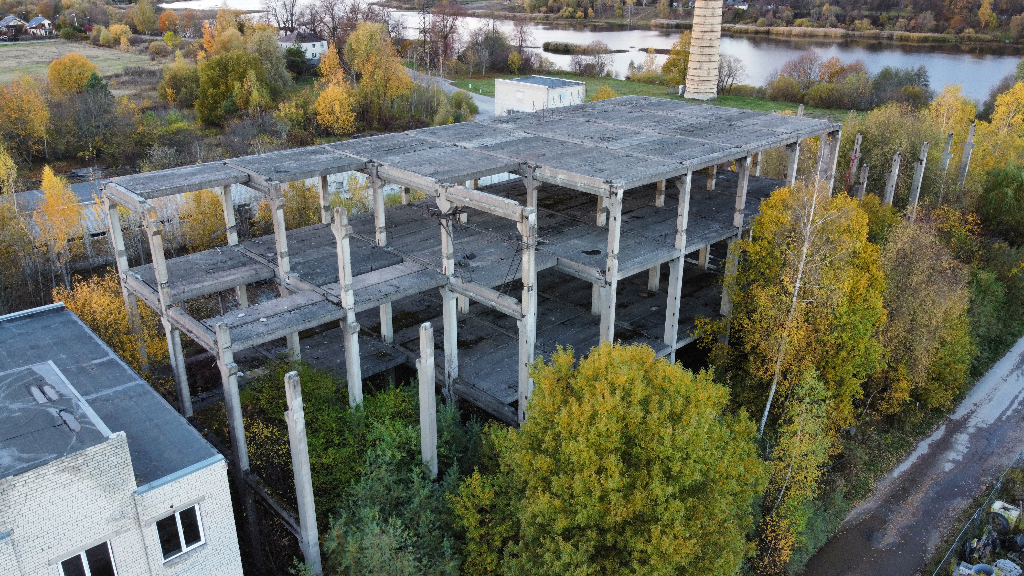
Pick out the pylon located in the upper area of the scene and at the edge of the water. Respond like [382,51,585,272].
[405,0,437,78]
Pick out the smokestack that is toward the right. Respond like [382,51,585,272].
[684,0,722,102]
